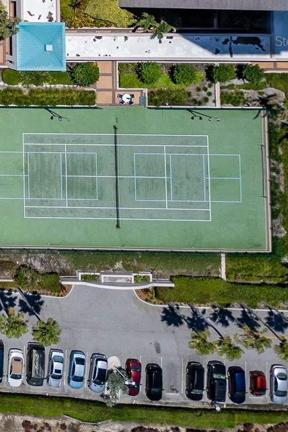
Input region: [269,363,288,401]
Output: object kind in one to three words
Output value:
car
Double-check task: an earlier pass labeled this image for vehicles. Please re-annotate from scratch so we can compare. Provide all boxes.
[6,348,24,384]
[124,359,142,392]
[145,361,163,399]
[26,341,44,382]
[69,349,86,387]
[47,347,65,385]
[88,352,107,390]
[247,365,266,397]
[183,359,204,398]
[269,363,288,401]
[205,355,225,403]
[224,363,245,401]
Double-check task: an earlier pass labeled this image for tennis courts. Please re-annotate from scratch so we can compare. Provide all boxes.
[0,107,266,250]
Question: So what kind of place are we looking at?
sports ground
